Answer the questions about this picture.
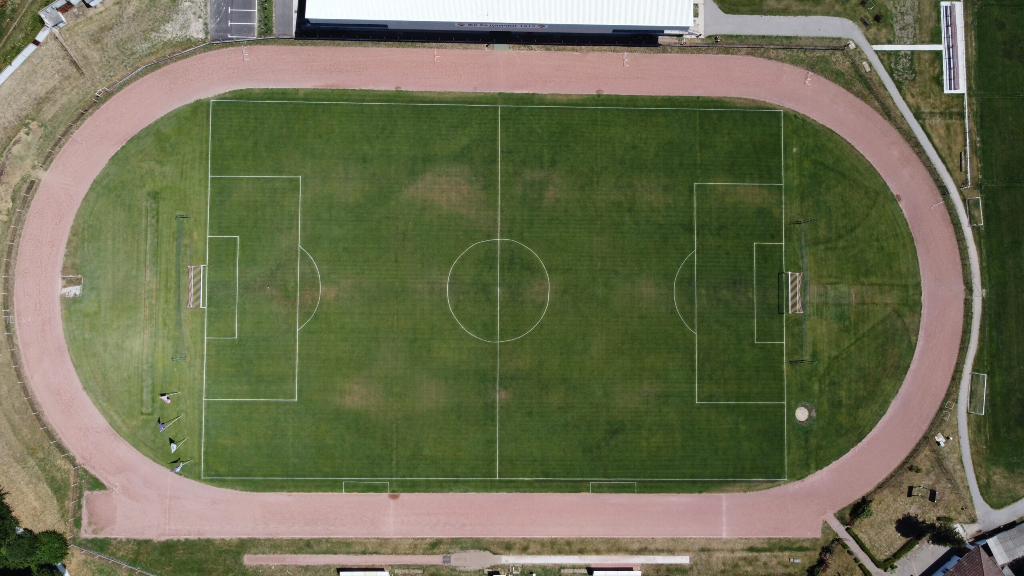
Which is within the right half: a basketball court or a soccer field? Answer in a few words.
soccer field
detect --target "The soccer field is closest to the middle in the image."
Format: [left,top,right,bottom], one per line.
[60,88,922,494]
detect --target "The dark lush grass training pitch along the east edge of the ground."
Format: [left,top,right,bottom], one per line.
[976,0,1024,507]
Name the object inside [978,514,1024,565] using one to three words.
shed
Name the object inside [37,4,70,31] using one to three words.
shed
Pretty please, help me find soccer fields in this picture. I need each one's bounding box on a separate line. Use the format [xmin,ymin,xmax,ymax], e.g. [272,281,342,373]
[976,0,1024,507]
[60,88,922,494]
